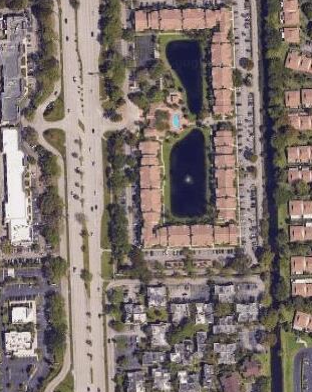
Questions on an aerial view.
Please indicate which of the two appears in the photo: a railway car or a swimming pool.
swimming pool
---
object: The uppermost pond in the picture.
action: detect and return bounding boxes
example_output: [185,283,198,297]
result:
[166,40,201,115]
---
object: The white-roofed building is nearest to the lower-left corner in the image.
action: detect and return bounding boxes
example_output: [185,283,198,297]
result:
[5,330,36,358]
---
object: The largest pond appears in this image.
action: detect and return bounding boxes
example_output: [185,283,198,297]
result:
[170,129,207,217]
